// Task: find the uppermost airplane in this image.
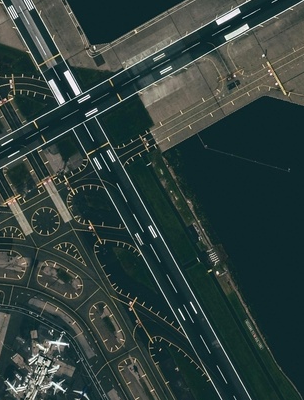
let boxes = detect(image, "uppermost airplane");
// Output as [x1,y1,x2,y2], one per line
[48,334,70,353]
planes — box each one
[72,388,88,400]
[3,379,18,394]
[48,334,70,353]
[53,380,68,396]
